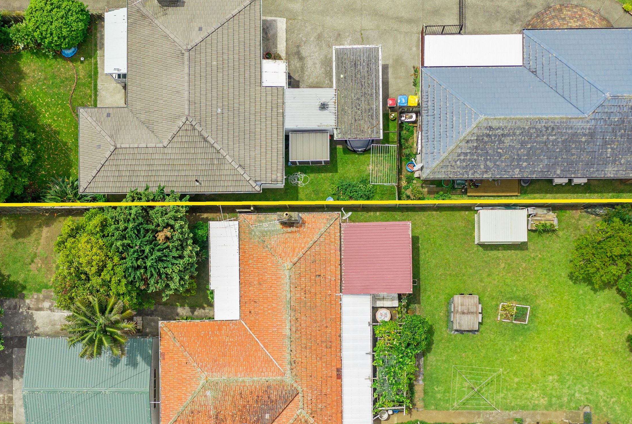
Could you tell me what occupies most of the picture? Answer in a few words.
buildings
